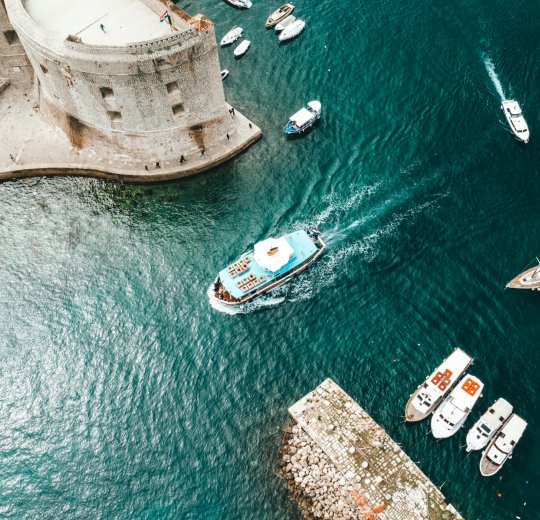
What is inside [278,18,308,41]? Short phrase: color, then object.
white boat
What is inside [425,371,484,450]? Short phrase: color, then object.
white boat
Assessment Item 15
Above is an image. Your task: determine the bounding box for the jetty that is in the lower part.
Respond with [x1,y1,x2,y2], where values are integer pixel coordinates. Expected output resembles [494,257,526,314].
[288,378,467,520]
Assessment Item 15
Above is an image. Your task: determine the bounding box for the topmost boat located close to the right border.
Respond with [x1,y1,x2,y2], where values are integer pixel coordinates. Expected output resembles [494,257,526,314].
[499,96,532,141]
